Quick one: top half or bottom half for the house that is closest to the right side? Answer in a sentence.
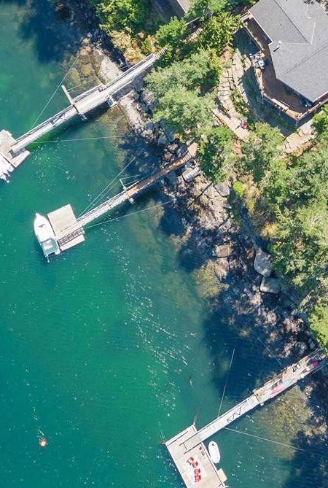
The house that is closest to the right side is in the top half of the image.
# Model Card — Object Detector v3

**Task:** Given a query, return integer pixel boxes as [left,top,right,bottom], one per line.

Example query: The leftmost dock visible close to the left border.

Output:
[0,129,32,168]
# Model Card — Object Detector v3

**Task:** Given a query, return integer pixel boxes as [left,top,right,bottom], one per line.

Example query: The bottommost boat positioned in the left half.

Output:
[34,212,60,265]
